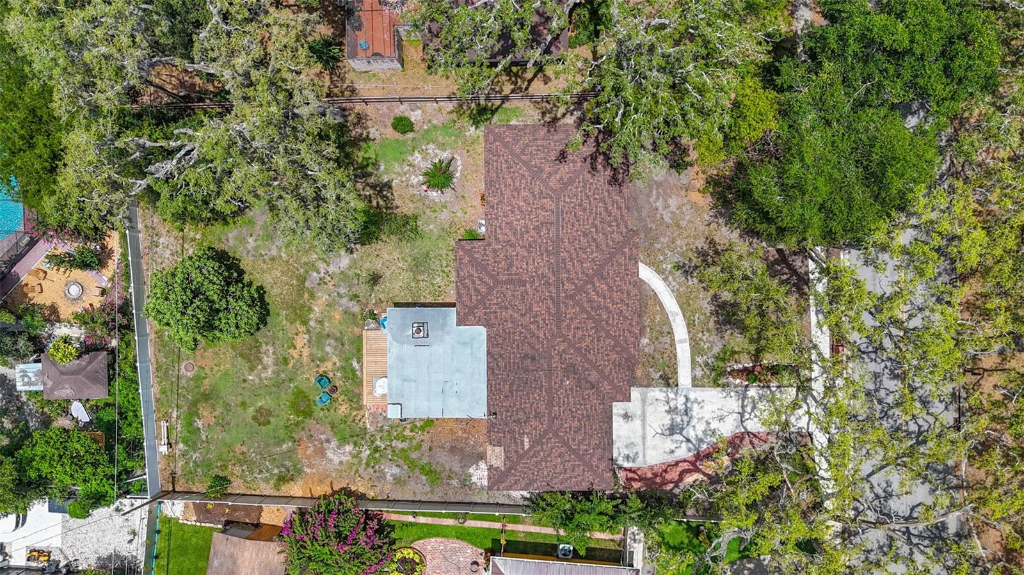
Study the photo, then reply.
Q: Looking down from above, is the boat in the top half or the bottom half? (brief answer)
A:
bottom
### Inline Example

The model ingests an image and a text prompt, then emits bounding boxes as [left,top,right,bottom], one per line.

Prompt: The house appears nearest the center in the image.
[387,124,640,492]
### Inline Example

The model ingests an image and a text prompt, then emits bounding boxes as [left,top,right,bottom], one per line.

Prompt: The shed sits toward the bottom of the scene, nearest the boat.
[42,352,120,399]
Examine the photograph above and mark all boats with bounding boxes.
[73,399,94,426]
